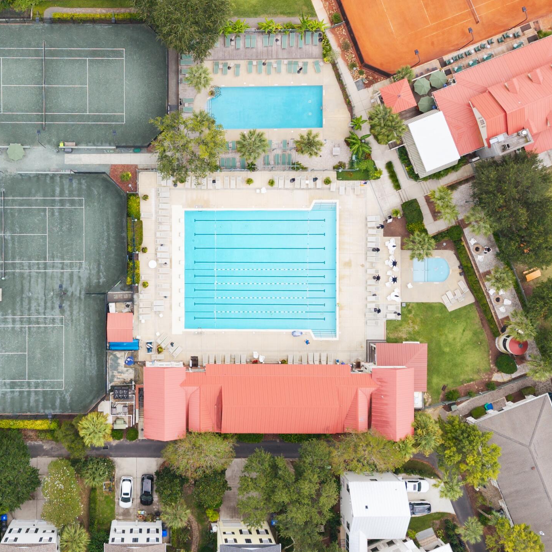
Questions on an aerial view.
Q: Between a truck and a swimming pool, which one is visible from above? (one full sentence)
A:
The image shows a swimming pool.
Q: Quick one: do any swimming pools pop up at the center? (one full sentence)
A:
Yes, at the center there is a swimming pool.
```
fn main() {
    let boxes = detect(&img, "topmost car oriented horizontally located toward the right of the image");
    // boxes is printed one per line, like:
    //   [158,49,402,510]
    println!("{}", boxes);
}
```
[401,479,433,495]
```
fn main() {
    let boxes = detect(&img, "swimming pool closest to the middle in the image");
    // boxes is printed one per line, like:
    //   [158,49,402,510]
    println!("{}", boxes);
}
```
[172,199,339,341]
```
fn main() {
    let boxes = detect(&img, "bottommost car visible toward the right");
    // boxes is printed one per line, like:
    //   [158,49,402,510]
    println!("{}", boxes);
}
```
[408,502,434,518]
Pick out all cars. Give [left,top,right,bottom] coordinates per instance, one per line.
[139,473,155,506]
[118,476,134,508]
[401,479,433,495]
[408,502,434,518]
